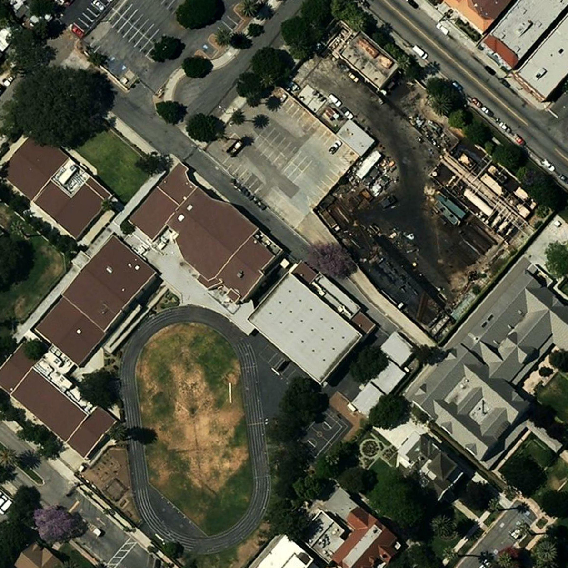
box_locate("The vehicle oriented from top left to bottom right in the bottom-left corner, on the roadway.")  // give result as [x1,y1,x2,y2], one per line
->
[88,524,105,539]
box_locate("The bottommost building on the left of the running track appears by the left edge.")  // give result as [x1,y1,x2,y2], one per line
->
[15,542,64,568]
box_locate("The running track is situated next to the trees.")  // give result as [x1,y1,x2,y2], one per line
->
[121,307,269,553]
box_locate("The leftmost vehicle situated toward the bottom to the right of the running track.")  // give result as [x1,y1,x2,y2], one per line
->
[277,357,290,372]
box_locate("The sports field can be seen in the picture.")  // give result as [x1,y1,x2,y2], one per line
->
[138,325,251,536]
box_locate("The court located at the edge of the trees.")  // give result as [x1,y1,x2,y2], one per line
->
[297,408,353,458]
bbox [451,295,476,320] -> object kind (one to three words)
shipping container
